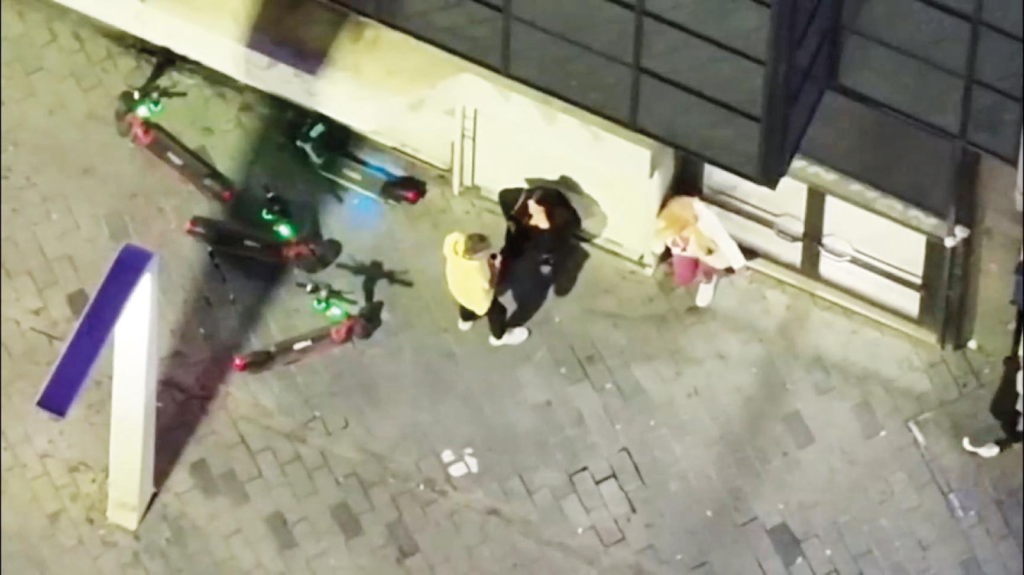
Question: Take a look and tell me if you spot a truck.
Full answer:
No, there is no truck in the image.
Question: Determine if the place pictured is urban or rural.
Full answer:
The land in this view is best described as urban.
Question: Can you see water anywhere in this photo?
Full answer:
No, the picture contains no water.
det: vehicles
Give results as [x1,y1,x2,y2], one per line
[278,101,418,201]
[231,270,379,372]
[113,80,238,204]
[185,179,346,266]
